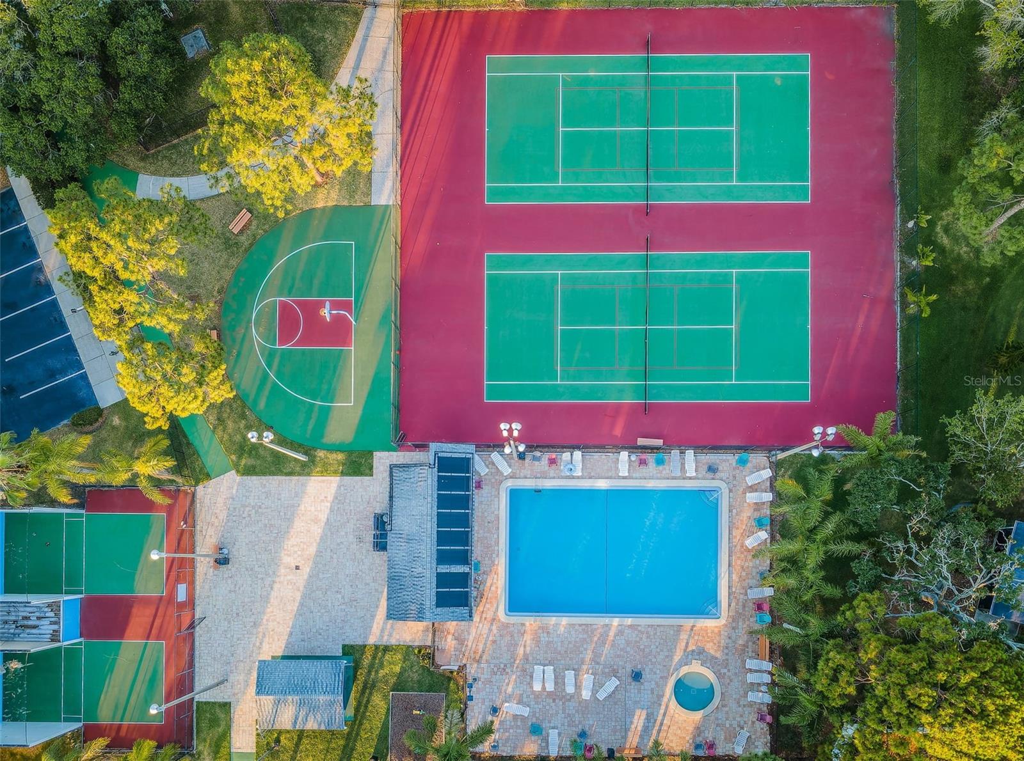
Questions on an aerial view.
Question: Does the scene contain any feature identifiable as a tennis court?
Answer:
Yes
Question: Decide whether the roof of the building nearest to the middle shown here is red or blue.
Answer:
blue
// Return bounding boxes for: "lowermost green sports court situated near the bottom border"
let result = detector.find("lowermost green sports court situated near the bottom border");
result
[0,638,164,749]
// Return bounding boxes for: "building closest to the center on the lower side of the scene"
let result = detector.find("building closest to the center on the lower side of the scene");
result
[387,442,474,622]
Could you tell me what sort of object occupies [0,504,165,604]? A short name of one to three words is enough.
sports court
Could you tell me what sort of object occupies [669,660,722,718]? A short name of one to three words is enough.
swimming pool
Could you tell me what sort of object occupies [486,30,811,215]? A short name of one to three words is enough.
tennis court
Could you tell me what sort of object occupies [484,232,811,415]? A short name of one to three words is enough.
tennis court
